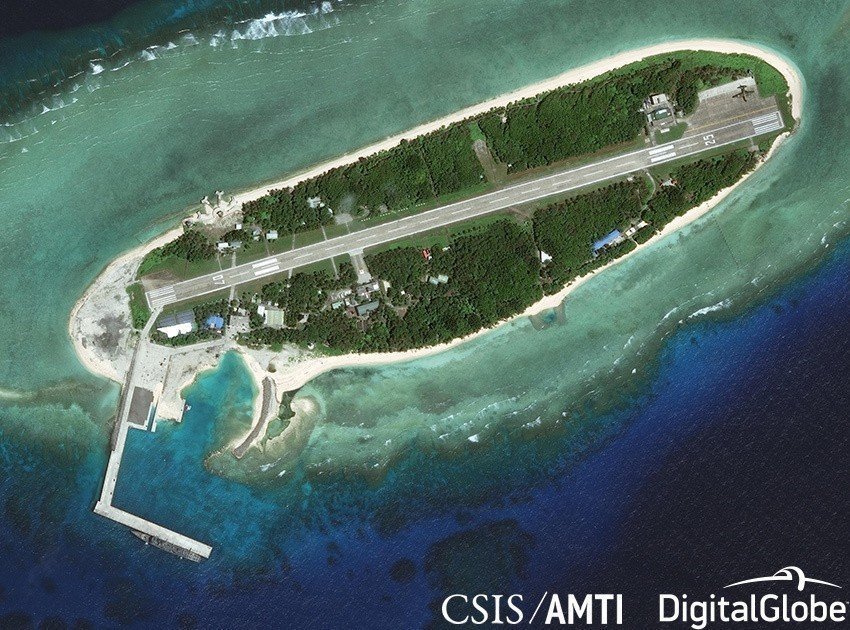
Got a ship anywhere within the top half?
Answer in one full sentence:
No, no ship appears within the top half.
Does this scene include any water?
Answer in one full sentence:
Yes, some water is visible.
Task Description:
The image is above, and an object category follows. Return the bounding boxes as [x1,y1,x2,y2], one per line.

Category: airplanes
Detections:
[733,85,755,102]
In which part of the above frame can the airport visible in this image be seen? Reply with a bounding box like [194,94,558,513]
[147,77,784,309]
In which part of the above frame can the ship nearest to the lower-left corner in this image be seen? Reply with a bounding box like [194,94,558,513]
[131,531,201,563]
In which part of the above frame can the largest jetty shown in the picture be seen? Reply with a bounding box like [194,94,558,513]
[94,427,212,558]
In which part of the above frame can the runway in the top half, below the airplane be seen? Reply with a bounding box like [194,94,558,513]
[147,111,784,309]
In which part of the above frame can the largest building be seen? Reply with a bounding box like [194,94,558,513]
[156,312,194,339]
